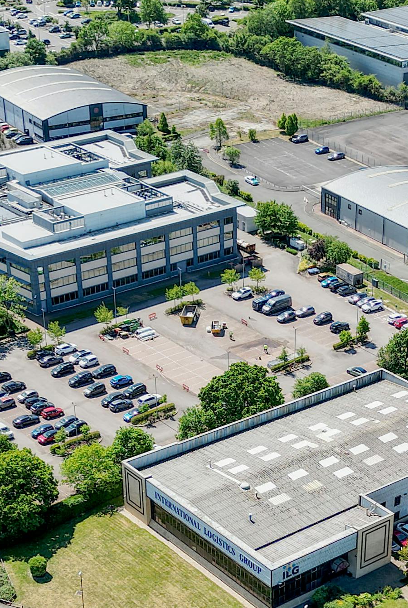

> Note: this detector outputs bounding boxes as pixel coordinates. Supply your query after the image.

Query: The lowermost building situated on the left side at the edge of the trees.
[0,128,248,317]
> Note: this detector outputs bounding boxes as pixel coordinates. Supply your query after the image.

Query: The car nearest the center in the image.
[230,285,254,301]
